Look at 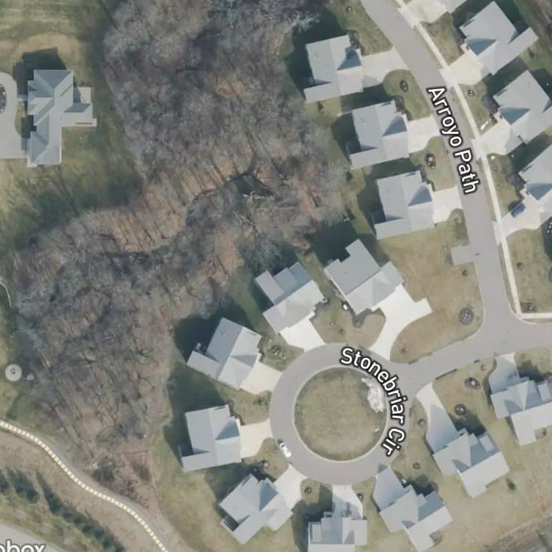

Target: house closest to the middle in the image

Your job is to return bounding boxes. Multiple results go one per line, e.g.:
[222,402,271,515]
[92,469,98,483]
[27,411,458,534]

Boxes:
[249,262,321,331]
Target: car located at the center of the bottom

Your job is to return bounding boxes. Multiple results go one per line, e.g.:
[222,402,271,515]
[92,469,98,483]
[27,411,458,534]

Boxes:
[278,442,291,458]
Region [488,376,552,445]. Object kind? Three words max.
house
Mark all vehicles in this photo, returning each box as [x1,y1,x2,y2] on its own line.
[510,200,527,216]
[278,442,291,458]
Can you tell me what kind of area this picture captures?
residential area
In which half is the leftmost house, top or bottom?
top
